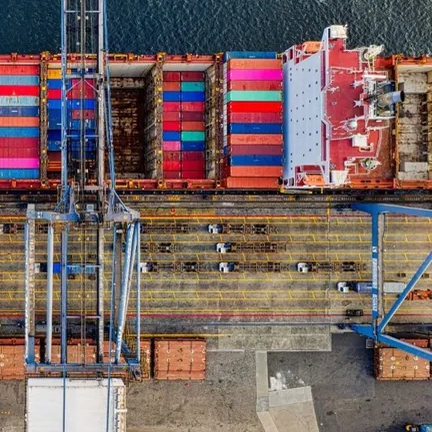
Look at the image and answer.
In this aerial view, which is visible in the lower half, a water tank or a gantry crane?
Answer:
gantry crane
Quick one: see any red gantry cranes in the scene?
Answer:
No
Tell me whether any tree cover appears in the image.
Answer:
No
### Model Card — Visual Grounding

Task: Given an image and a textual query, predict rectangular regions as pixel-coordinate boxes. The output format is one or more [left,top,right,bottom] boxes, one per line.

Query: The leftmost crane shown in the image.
[16,0,152,432]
